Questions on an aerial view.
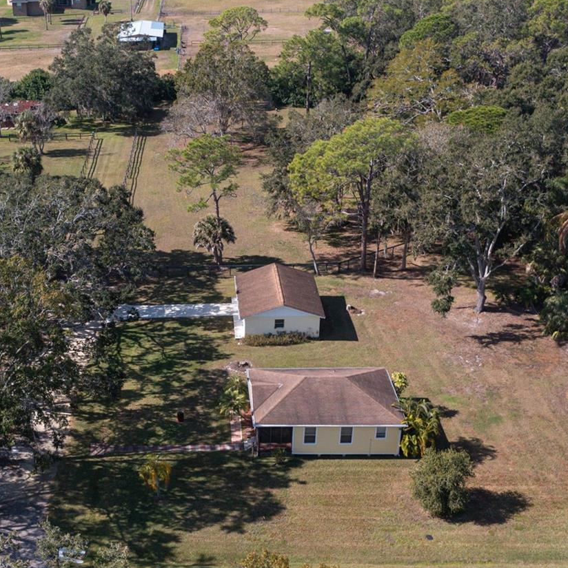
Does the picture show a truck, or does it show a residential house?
residential house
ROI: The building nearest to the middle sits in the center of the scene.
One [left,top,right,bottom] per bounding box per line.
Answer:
[234,263,324,340]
